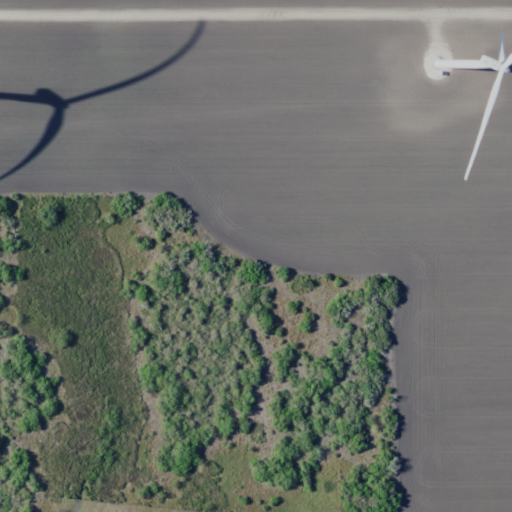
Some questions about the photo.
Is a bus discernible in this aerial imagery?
No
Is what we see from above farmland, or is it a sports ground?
farmland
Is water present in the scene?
No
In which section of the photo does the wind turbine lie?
top right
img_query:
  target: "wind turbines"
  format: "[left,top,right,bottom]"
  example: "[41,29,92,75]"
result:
[432,33,512,183]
